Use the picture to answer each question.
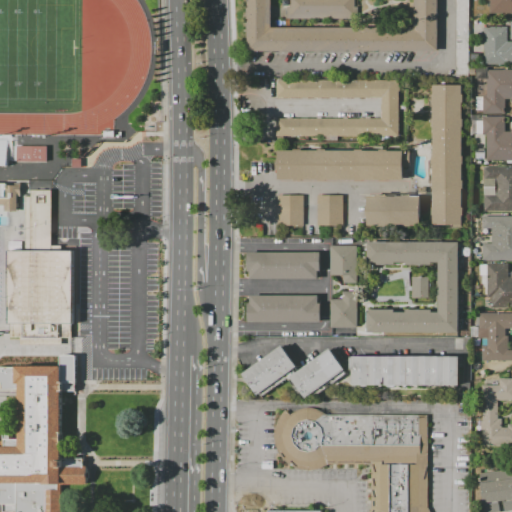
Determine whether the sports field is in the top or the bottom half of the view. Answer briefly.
top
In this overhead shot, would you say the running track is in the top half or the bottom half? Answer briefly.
top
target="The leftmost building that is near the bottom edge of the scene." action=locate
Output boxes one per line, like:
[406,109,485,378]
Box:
[0,365,59,512]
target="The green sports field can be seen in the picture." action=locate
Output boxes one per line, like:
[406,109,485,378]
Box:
[0,0,82,112]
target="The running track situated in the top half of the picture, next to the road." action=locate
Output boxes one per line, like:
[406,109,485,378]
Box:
[0,0,152,134]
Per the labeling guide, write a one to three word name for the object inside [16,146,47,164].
shed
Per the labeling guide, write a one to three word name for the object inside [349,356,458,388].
building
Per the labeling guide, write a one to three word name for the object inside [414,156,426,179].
swimming pool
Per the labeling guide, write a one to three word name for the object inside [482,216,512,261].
house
